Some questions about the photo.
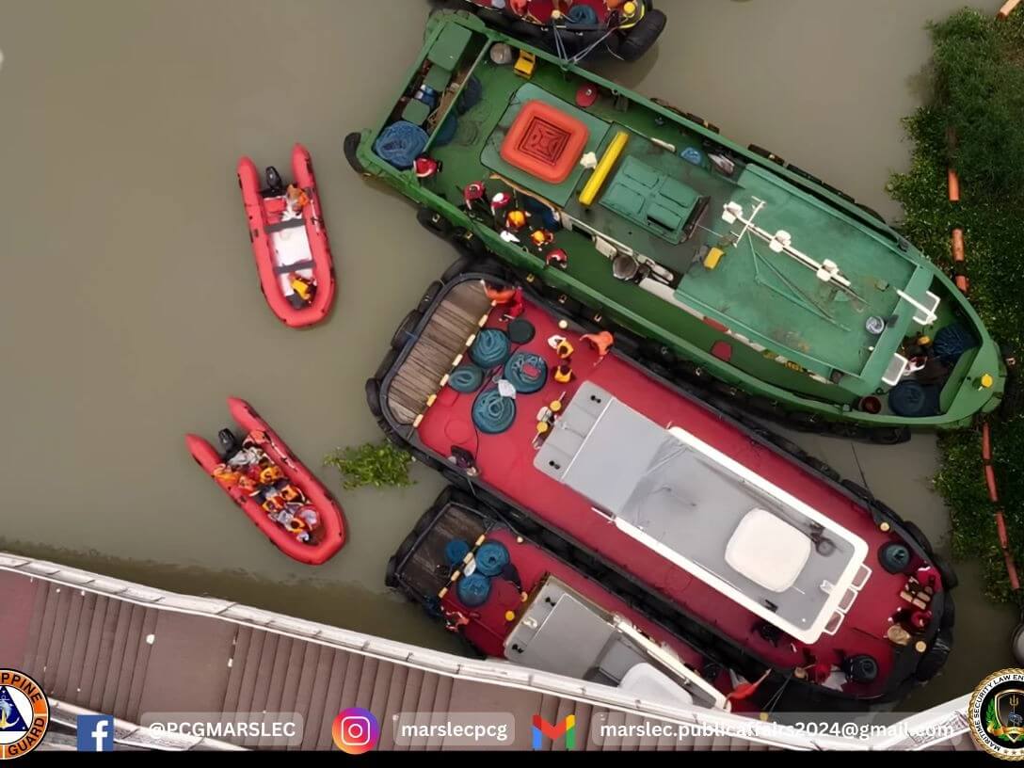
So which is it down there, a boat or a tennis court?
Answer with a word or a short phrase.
boat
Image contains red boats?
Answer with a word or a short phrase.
Yes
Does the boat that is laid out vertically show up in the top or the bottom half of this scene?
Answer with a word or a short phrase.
top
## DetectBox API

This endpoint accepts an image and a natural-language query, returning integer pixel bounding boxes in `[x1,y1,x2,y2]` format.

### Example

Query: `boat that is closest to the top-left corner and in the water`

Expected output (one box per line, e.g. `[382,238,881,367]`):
[238,144,337,329]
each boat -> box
[363,256,956,707]
[187,397,347,563]
[238,144,337,329]
[433,0,671,63]
[381,477,767,718]
[341,1,1017,442]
